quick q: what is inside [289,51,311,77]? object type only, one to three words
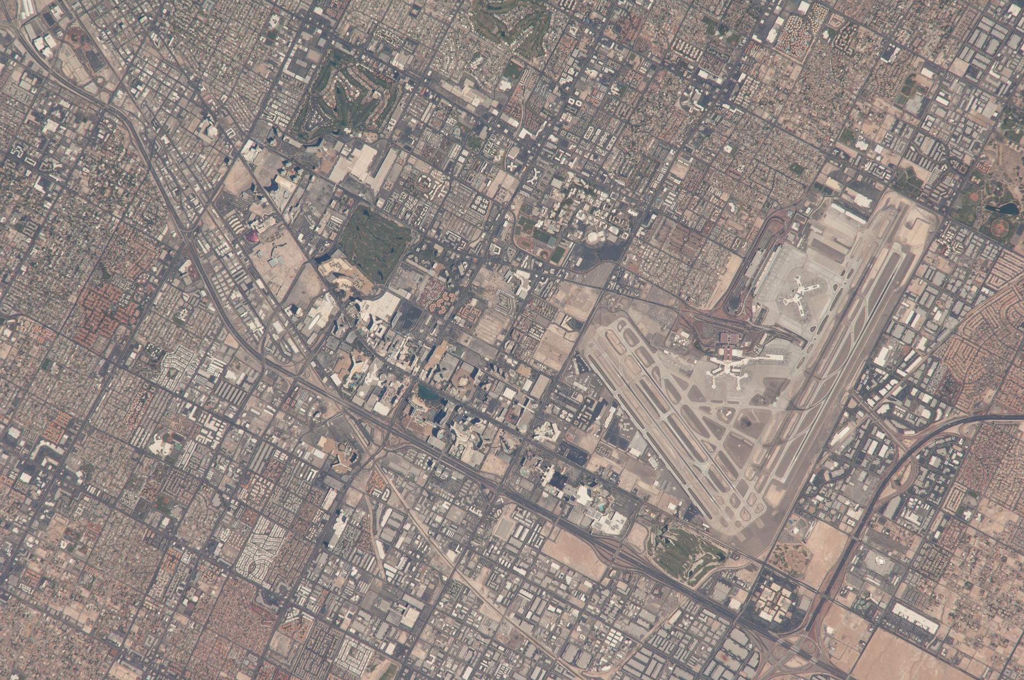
building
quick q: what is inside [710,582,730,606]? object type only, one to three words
building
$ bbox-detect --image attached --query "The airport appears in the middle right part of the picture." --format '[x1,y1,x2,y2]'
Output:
[561,189,942,559]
